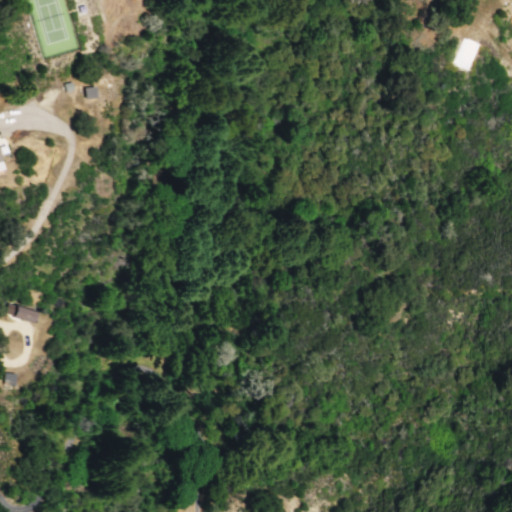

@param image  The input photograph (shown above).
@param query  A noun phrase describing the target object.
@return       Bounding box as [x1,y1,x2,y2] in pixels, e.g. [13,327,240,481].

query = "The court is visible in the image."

[28,0,78,58]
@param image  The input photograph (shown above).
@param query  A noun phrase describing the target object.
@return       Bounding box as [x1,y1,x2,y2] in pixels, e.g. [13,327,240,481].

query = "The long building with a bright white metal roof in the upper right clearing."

[452,38,481,70]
